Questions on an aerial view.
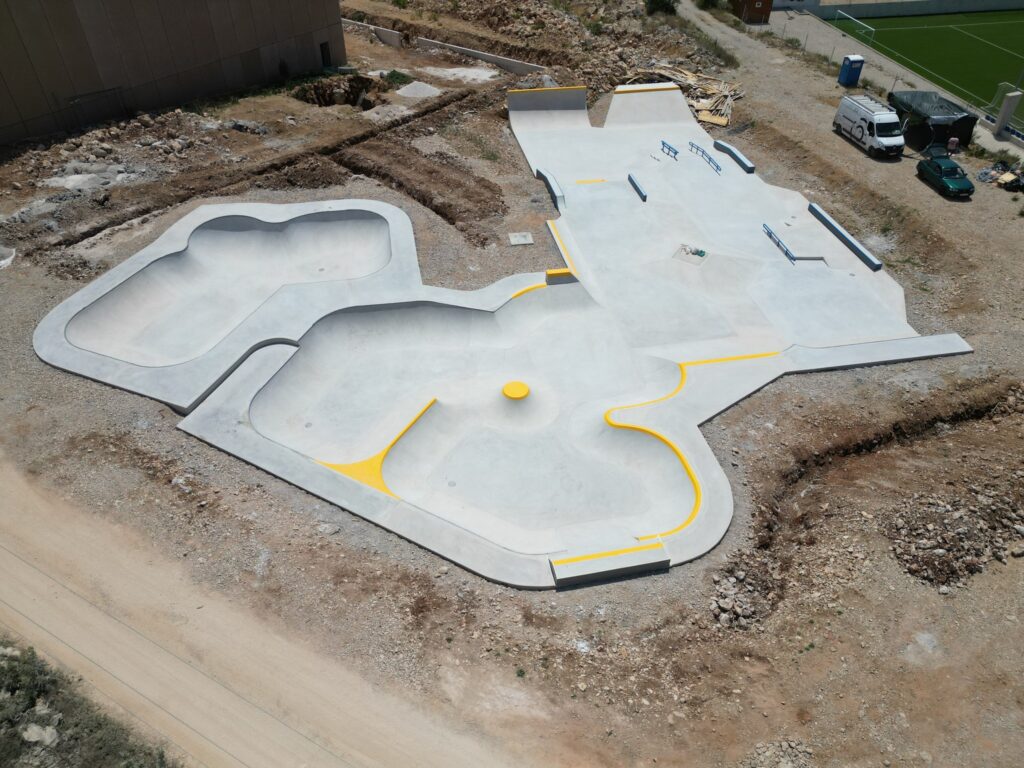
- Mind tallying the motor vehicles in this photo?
two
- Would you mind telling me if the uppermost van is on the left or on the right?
right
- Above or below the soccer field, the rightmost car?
below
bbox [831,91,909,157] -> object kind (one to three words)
van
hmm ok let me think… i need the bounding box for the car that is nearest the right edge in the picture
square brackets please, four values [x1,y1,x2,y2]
[915,145,978,195]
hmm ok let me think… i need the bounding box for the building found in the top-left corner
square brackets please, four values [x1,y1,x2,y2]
[0,0,345,155]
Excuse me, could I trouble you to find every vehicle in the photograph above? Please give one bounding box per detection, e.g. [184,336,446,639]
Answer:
[915,145,978,195]
[831,91,909,157]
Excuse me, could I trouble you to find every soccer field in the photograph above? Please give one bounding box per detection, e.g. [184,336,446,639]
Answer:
[823,10,1024,134]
